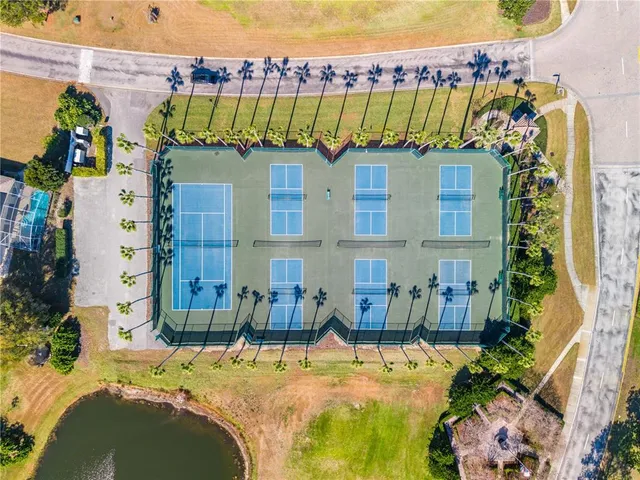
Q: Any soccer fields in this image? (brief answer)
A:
No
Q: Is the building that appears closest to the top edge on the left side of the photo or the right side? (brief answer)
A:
right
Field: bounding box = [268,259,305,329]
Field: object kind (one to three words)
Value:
sports court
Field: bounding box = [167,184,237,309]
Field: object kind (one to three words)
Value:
tennis court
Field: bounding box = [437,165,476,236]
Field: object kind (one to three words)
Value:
sports court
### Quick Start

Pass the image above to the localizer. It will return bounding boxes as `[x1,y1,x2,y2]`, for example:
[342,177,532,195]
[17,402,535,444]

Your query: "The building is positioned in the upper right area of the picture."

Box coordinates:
[506,112,541,148]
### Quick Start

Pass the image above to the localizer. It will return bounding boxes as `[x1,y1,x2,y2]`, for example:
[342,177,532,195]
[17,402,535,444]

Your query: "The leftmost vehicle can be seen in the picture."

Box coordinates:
[191,72,219,86]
